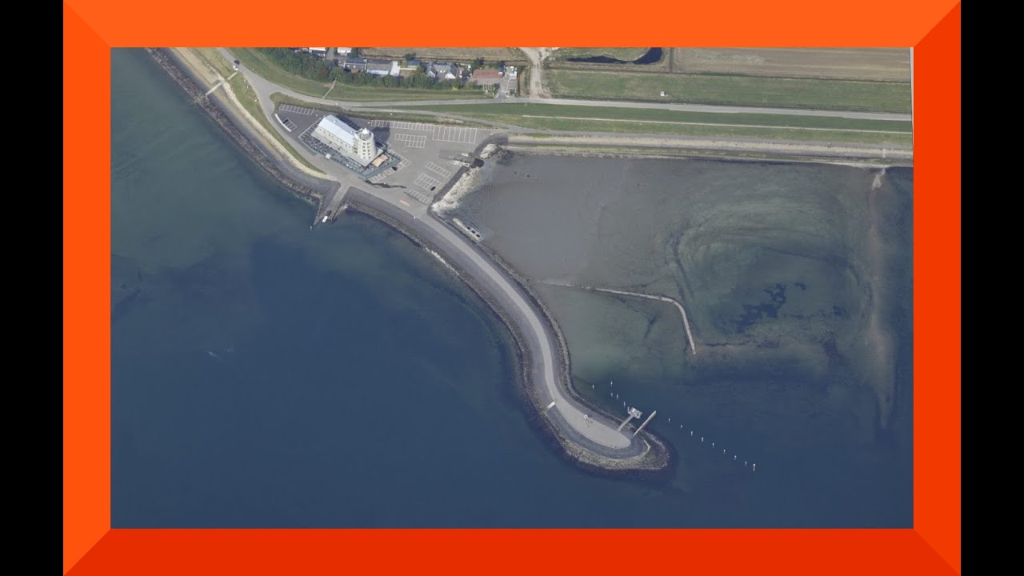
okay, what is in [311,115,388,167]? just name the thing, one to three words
building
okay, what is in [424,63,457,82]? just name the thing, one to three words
house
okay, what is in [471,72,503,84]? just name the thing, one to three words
house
